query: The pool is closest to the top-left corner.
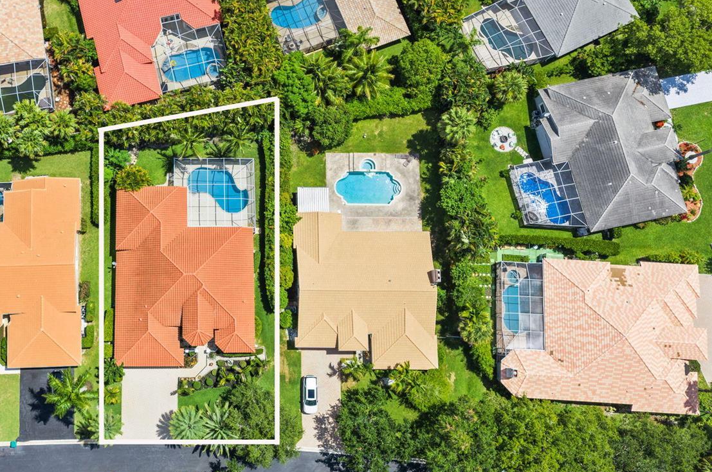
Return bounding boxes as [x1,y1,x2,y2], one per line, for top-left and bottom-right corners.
[0,70,50,114]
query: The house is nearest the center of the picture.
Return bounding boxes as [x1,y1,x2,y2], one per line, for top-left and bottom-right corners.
[293,212,442,370]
